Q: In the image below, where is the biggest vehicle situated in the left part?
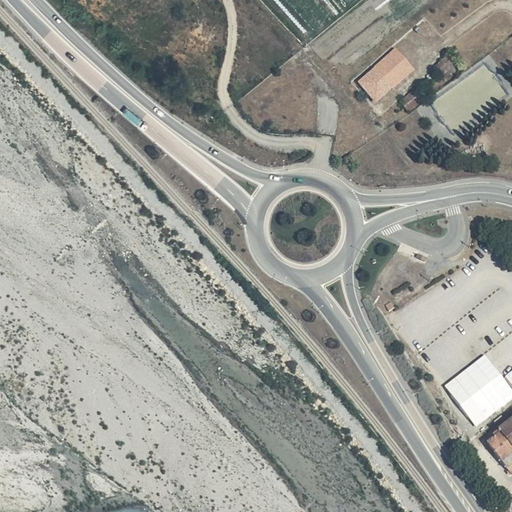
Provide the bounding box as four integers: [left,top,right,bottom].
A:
[122,108,145,128]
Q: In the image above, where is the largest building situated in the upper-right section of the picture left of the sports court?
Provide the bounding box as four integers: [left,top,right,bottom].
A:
[358,48,416,102]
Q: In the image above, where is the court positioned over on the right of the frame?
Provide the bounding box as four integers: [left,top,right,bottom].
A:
[432,64,509,134]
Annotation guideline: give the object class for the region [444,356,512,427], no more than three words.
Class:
building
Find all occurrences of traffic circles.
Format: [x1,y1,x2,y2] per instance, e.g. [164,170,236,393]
[244,167,366,288]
